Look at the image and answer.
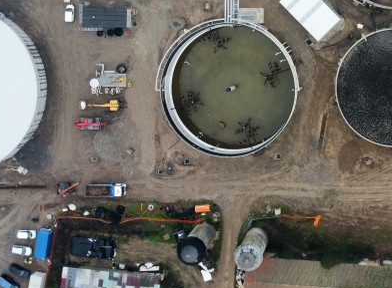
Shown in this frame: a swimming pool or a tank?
tank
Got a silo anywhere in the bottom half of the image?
Yes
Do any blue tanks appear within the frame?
No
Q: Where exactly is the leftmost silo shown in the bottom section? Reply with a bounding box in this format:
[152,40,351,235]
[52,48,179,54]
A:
[174,223,216,267]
